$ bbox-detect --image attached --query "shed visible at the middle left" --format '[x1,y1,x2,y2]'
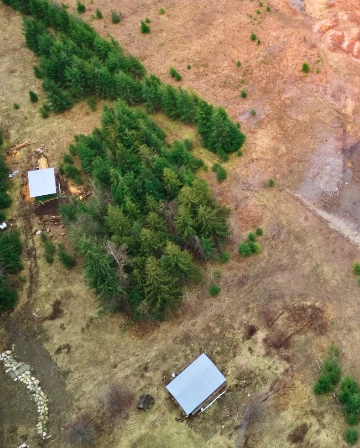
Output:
[30,165,65,206]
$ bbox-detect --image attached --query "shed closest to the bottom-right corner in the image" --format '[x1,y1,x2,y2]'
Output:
[164,354,226,420]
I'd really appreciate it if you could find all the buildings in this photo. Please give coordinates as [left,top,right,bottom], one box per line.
[164,354,226,420]
[138,395,155,412]
[30,165,65,206]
